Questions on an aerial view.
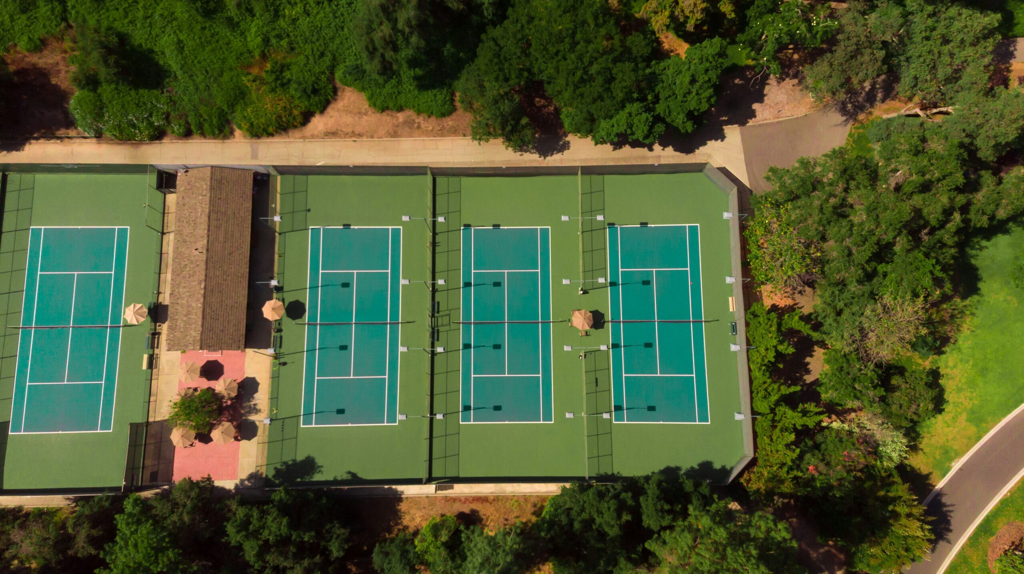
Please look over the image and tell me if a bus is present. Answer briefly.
No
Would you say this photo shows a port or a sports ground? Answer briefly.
sports ground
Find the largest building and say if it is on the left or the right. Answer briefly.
left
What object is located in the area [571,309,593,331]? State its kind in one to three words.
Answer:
umbrella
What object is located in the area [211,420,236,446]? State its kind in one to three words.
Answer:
umbrella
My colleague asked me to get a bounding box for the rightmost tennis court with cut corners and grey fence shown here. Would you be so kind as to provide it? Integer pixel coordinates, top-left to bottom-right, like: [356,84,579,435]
[580,173,745,482]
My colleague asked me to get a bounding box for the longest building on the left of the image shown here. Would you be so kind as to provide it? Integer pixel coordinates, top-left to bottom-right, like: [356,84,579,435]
[166,166,253,352]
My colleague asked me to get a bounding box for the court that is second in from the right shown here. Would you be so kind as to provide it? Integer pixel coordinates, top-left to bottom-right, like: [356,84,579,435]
[429,175,586,481]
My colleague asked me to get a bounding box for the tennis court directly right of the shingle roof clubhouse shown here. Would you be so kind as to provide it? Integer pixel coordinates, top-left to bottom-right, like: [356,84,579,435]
[265,176,432,485]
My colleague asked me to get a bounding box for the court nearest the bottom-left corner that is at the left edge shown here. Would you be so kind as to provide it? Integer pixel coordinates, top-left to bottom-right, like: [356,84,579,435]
[0,173,164,493]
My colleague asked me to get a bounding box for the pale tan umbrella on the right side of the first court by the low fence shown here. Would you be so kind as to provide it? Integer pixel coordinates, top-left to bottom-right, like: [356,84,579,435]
[125,303,149,326]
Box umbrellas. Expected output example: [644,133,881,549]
[263,299,285,321]
[181,360,203,382]
[571,309,593,331]
[211,420,236,446]
[125,303,149,326]
[217,376,239,399]
[172,426,196,450]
